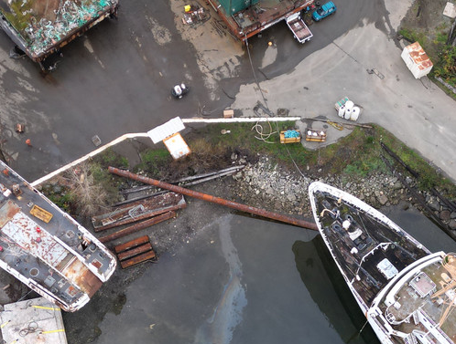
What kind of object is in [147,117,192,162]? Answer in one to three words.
shed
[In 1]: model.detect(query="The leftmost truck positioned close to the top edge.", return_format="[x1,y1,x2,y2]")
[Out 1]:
[288,13,313,43]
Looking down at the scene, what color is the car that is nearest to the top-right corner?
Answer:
blue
